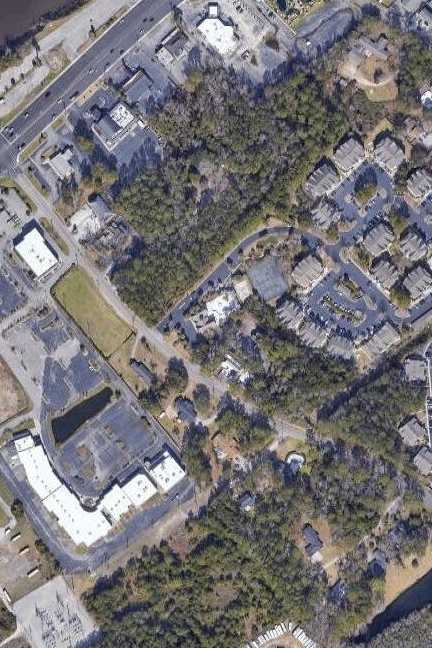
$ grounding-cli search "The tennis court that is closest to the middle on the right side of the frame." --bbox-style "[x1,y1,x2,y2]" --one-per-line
[248,255,289,300]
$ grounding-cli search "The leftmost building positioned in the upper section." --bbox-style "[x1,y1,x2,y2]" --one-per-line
[14,228,59,276]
